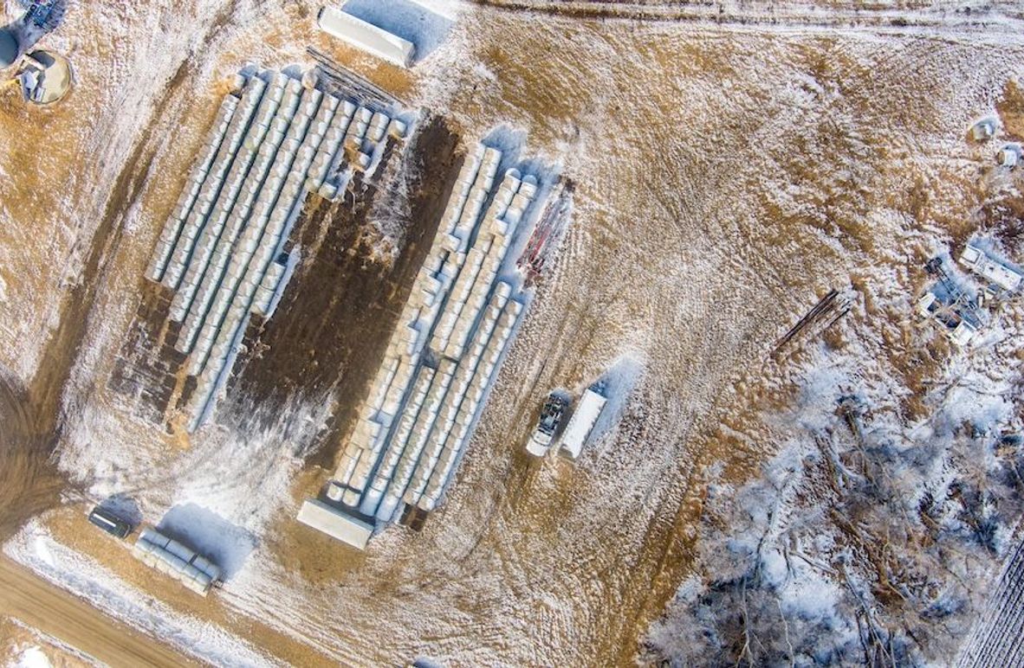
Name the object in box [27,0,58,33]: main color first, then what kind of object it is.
blue work vehicle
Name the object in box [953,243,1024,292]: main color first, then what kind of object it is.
white truck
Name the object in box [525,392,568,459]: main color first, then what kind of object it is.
white truck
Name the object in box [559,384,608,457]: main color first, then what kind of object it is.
white trailer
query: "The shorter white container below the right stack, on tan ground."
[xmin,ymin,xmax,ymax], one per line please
[297,493,378,551]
